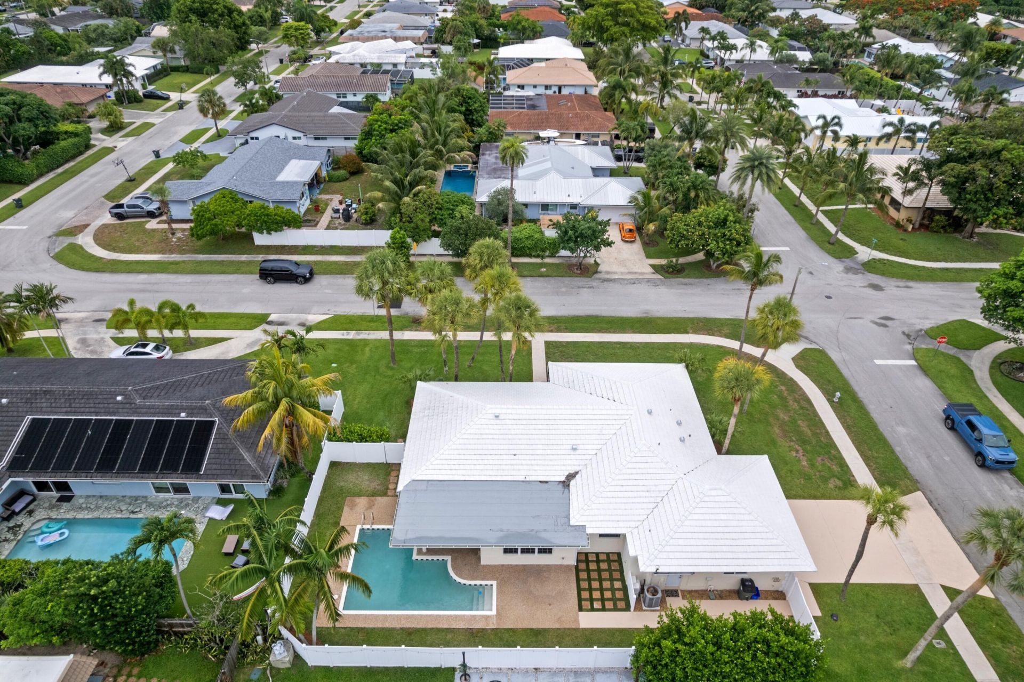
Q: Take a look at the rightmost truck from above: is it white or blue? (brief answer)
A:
blue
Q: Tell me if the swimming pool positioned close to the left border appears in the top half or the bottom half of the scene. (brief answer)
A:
bottom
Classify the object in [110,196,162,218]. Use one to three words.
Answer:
truck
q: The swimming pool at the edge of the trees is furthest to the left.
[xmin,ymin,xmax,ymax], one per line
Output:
[5,517,187,572]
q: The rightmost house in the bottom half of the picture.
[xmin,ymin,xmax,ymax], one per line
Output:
[390,361,818,588]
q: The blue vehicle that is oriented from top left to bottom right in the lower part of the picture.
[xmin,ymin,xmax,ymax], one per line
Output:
[947,407,1021,476]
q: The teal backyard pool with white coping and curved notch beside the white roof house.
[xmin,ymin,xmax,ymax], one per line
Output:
[338,513,497,613]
